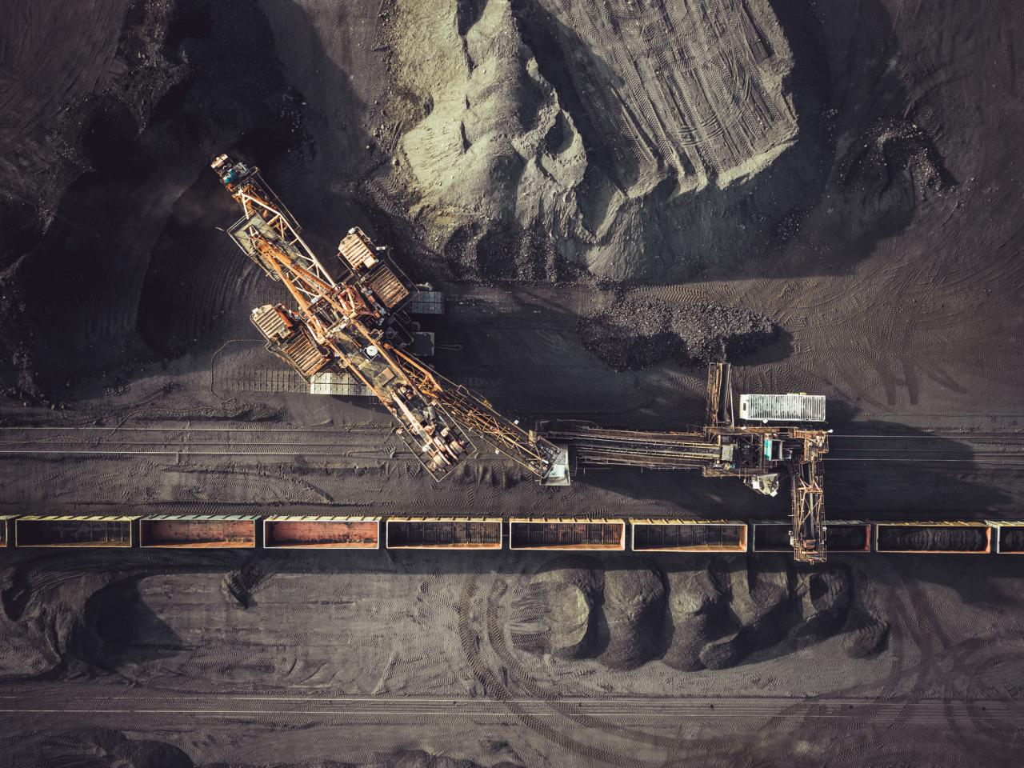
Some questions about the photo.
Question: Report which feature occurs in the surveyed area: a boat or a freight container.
freight container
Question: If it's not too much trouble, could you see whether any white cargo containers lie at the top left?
No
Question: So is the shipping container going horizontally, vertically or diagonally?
horizontally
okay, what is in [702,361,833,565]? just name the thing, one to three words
work vehicle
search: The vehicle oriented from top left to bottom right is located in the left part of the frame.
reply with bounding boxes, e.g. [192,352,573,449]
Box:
[210,154,561,482]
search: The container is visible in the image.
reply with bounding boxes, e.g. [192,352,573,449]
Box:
[733,391,827,425]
